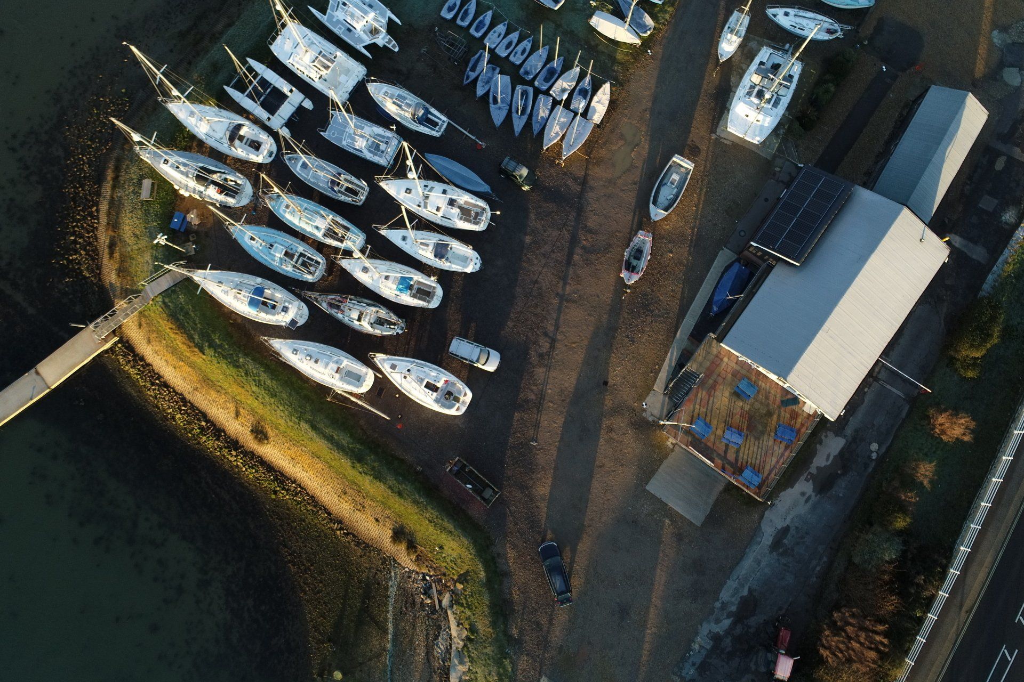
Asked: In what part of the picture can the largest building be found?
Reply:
right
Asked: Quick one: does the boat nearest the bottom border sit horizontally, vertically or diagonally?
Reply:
diagonally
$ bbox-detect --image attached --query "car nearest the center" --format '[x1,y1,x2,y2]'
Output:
[449,336,501,370]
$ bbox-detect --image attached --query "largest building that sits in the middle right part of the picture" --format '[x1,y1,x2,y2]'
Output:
[713,165,951,421]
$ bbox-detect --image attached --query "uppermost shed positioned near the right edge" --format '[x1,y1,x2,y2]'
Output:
[860,85,988,224]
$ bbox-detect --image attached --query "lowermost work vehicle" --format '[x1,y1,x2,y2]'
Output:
[760,607,799,679]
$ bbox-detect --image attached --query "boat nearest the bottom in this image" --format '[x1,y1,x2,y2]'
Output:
[446,455,501,508]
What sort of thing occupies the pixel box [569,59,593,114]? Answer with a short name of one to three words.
boat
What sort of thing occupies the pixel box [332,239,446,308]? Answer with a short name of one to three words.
boat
